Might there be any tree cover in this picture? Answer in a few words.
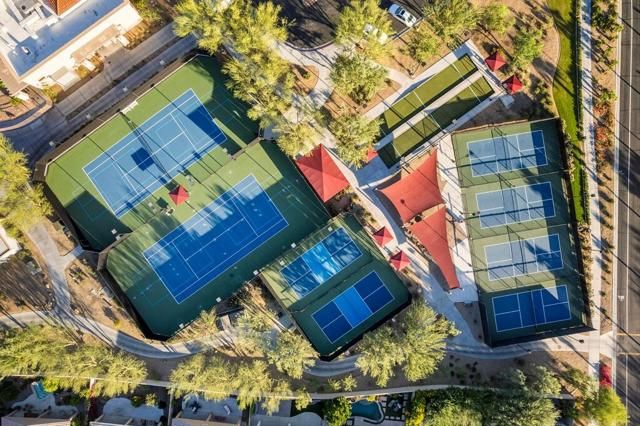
Yes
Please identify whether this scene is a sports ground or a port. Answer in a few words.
sports ground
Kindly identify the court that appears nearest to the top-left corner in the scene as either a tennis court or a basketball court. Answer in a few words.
tennis court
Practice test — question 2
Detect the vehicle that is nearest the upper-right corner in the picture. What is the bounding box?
[389,5,416,27]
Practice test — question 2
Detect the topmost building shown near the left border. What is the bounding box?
[0,0,159,92]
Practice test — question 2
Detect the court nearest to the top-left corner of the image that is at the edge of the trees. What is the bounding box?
[46,56,262,251]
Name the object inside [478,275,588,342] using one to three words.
sports court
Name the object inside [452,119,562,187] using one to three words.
sports court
